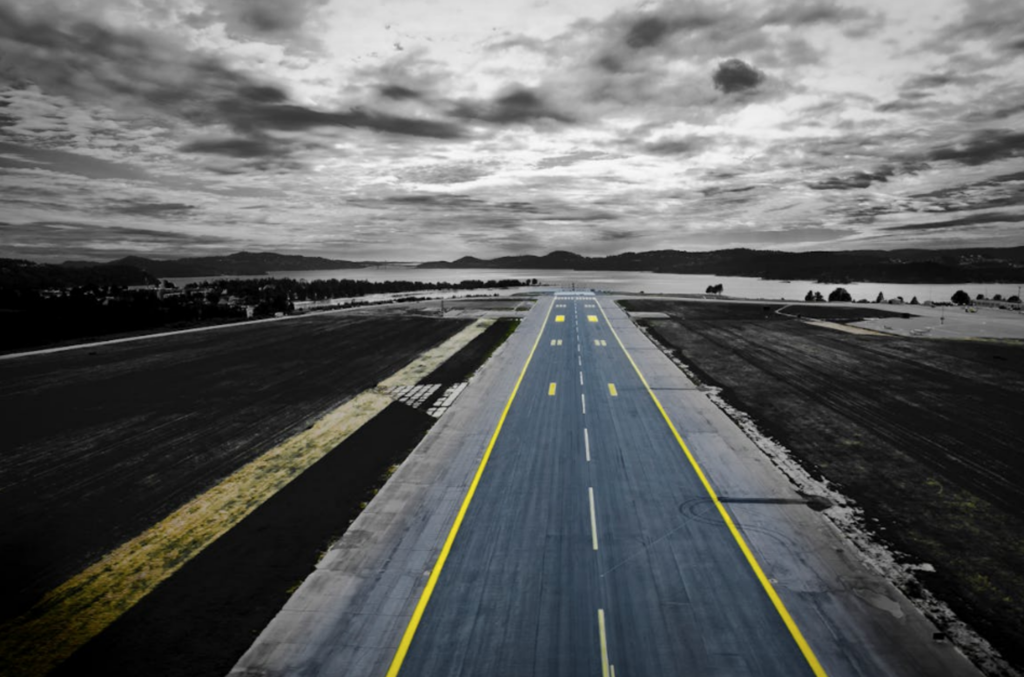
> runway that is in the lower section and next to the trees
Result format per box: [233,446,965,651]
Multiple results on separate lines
[384,291,824,677]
